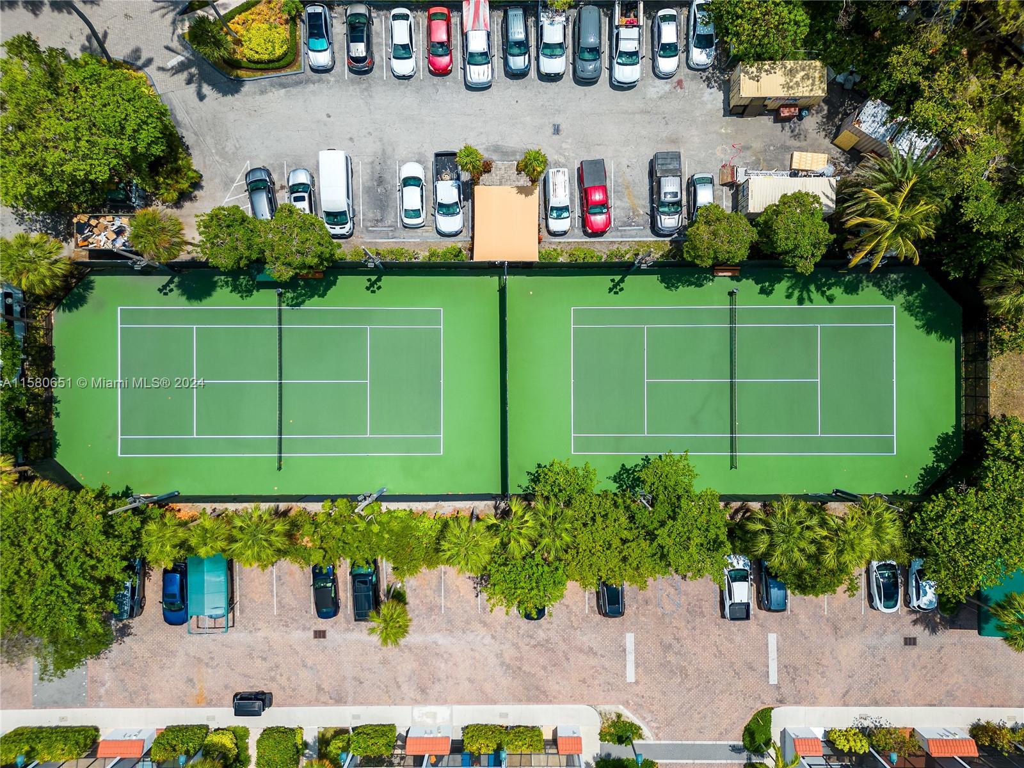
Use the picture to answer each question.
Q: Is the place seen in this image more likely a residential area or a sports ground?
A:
sports ground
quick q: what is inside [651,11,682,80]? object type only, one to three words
car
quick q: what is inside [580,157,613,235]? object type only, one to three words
vehicle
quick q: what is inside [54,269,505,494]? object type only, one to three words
tennis court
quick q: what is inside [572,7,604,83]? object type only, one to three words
car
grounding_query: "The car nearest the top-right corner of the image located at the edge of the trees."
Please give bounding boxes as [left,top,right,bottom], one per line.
[687,0,720,69]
